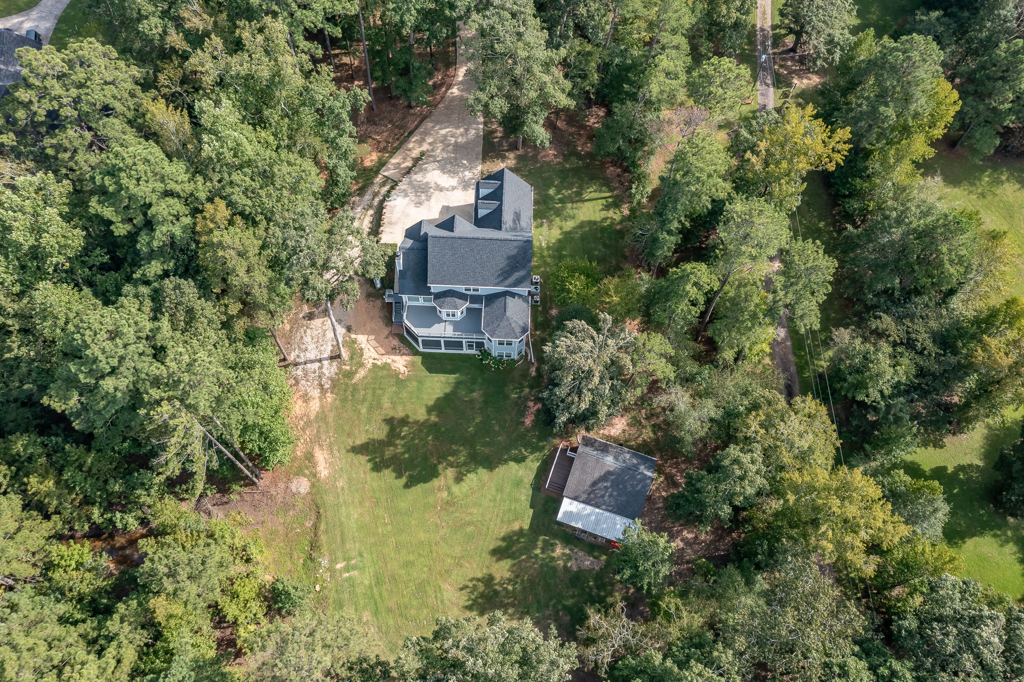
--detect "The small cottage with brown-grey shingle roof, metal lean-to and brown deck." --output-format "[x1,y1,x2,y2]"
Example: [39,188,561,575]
[545,433,657,548]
